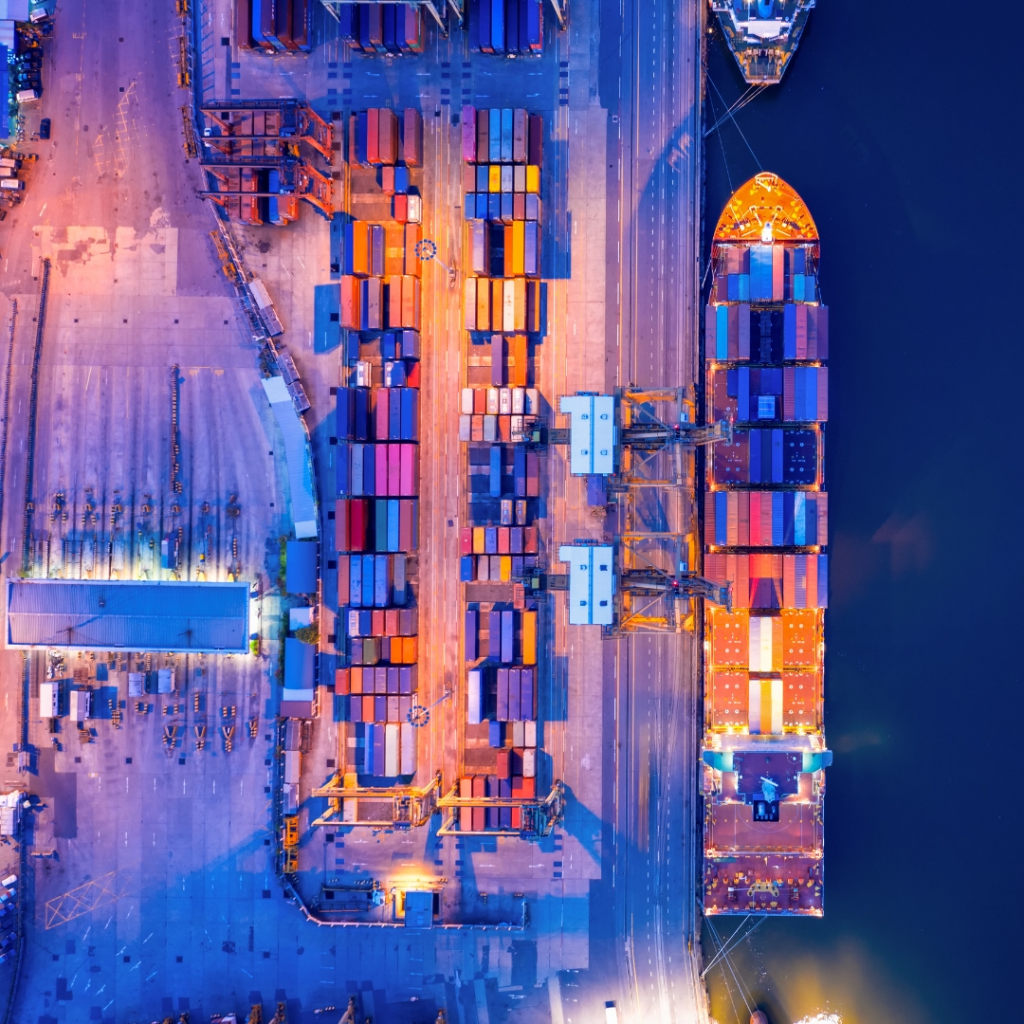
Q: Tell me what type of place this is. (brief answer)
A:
port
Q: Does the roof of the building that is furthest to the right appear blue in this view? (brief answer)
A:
Yes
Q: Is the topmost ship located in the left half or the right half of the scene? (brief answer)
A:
right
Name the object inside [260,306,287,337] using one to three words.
building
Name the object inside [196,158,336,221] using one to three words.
container crane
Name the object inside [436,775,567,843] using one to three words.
container crane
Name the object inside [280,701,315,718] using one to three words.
building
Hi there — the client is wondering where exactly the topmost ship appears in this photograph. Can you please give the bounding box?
[712,0,815,90]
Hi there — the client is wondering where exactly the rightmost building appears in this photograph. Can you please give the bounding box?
[405,883,437,929]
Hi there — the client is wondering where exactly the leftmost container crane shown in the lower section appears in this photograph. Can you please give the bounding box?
[309,765,445,834]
